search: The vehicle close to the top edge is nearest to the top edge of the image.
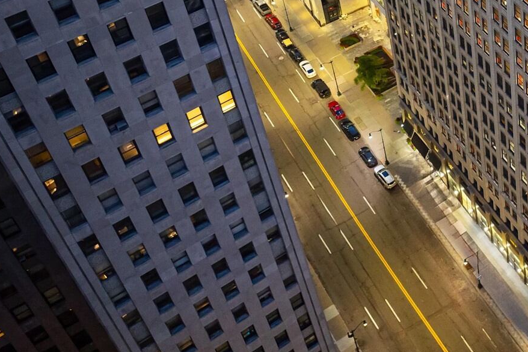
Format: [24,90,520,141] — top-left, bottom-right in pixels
[253,0,271,15]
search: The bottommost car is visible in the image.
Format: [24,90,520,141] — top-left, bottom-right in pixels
[373,167,394,189]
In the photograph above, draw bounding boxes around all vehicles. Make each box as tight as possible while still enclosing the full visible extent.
[312,79,330,97]
[266,15,282,29]
[300,62,317,80]
[253,0,271,15]
[277,29,292,45]
[341,122,360,141]
[373,167,394,189]
[287,46,304,62]
[327,102,345,121]
[359,148,378,168]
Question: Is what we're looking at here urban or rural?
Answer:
urban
